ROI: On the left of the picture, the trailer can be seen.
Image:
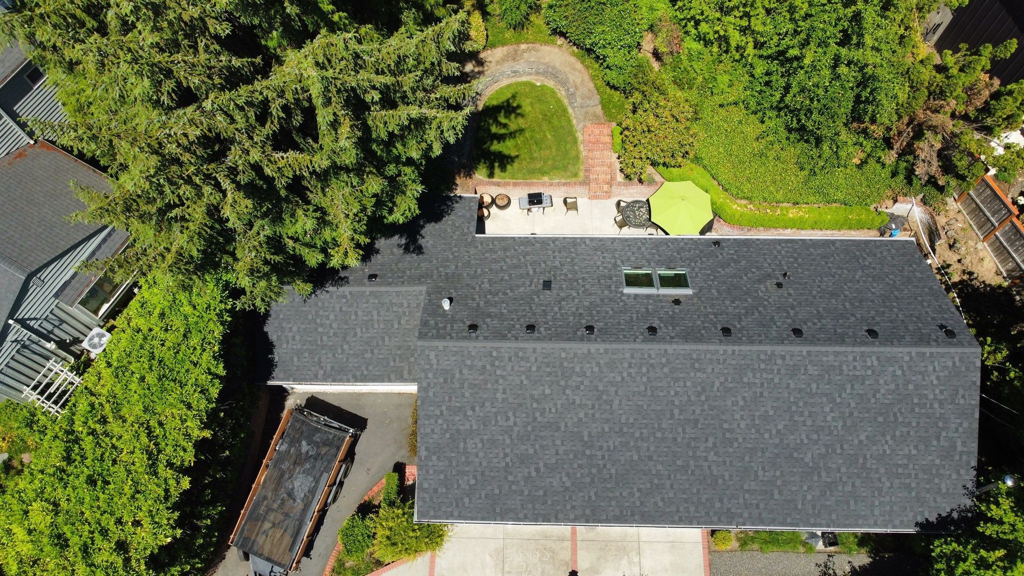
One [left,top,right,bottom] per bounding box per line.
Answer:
[229,404,360,576]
